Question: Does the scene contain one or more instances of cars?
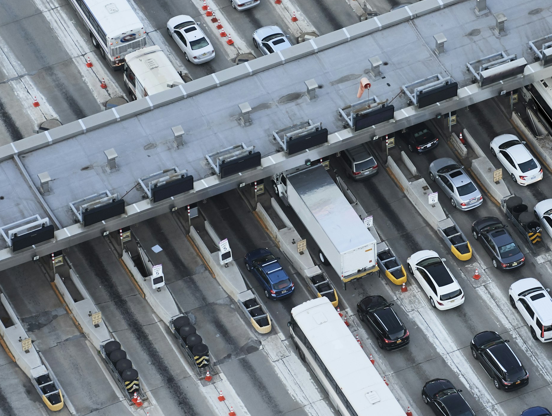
Yes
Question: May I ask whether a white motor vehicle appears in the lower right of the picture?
Yes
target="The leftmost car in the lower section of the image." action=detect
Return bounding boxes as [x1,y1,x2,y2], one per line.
[246,249,296,304]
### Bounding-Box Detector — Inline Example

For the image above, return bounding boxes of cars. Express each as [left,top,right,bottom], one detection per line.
[253,28,289,56]
[421,378,474,416]
[473,333,532,398]
[230,0,264,16]
[398,122,440,158]
[334,143,380,184]
[472,216,526,275]
[491,134,544,190]
[246,249,296,304]
[430,158,485,216]
[522,406,552,416]
[165,14,217,69]
[532,196,552,238]
[407,250,466,315]
[358,296,412,357]
[508,280,552,349]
